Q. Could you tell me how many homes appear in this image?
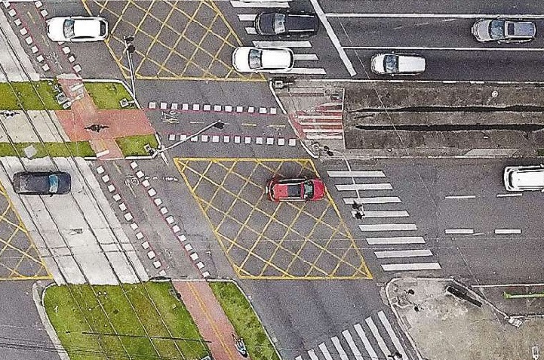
0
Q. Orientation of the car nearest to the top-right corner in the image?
from side to side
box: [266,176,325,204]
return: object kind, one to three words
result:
car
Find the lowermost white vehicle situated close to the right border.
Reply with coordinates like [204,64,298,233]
[502,164,544,191]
